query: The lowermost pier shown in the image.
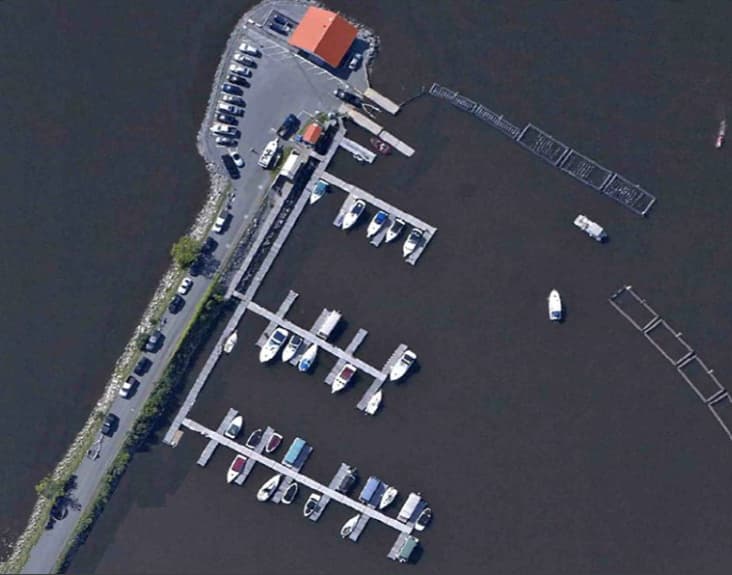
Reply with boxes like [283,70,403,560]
[182,408,427,559]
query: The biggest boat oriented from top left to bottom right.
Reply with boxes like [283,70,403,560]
[575,217,603,240]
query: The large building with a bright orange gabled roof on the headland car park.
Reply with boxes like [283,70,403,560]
[290,6,357,68]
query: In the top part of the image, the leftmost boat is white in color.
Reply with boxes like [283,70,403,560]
[258,142,278,169]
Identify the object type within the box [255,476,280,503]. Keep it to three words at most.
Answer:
boat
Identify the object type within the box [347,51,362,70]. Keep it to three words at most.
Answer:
car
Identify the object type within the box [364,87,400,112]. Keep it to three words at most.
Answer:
pier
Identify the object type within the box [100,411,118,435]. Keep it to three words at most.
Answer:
vehicle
